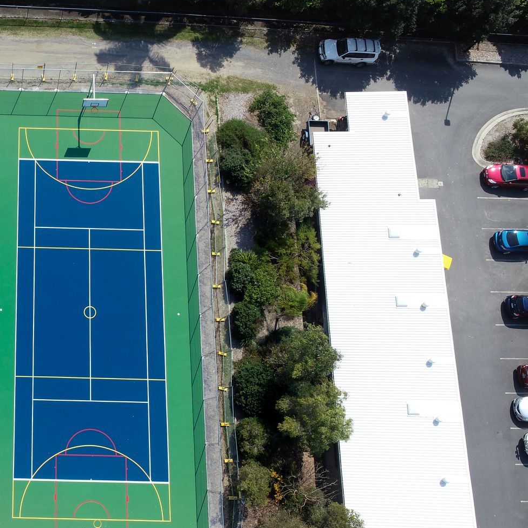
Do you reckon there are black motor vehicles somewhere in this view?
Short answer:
Yes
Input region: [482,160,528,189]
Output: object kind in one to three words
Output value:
car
